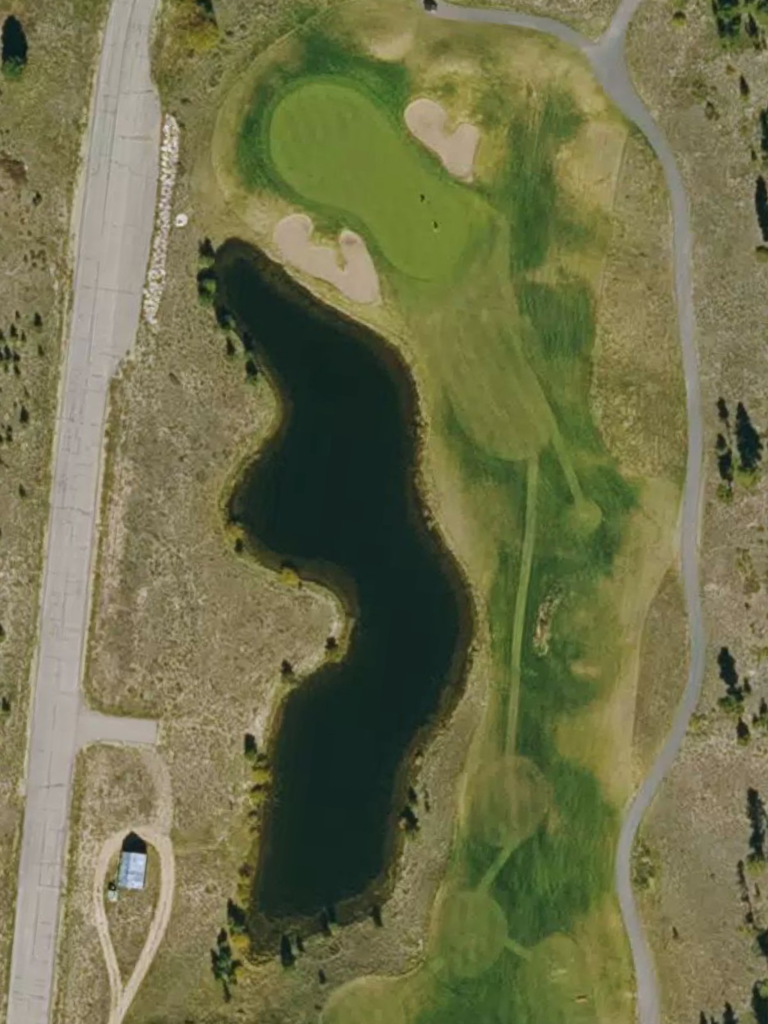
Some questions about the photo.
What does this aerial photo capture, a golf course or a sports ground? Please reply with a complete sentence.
This image shows a golf course.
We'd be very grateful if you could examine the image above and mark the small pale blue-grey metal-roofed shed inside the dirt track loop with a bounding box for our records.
[117,854,145,892]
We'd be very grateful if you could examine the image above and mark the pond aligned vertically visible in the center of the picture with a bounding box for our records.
[214,238,474,957]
